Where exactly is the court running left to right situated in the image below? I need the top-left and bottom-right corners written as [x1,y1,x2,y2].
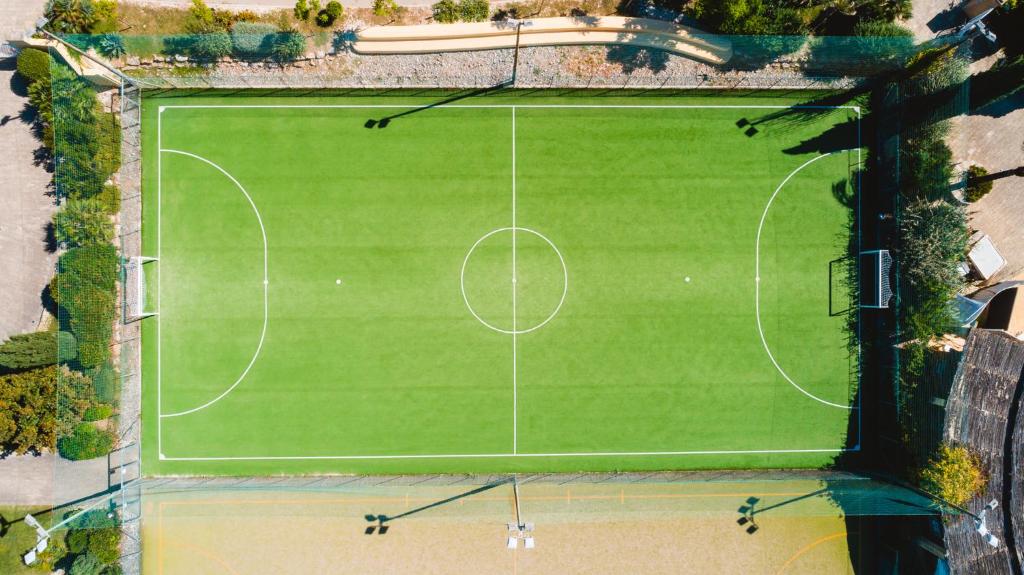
[141,479,878,575]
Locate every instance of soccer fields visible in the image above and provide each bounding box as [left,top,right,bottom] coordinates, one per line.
[141,87,877,475]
